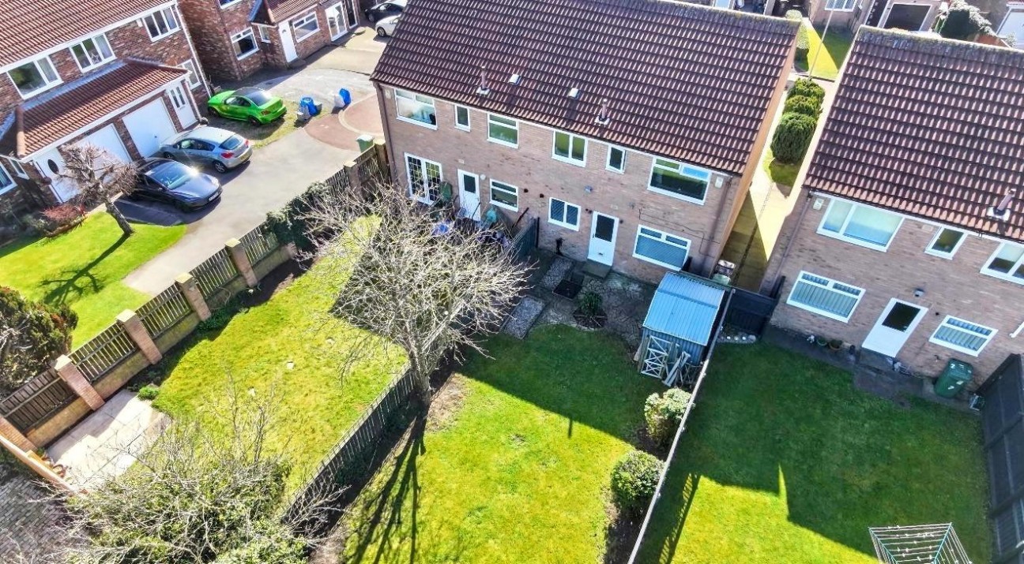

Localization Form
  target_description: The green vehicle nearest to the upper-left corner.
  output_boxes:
[200,83,289,127]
